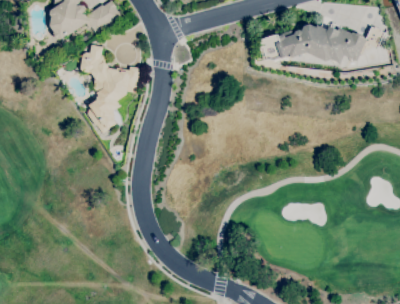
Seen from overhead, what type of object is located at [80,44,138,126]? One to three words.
house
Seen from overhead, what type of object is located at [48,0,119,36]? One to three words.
house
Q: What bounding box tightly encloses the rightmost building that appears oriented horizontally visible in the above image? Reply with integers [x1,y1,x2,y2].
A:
[261,24,365,62]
